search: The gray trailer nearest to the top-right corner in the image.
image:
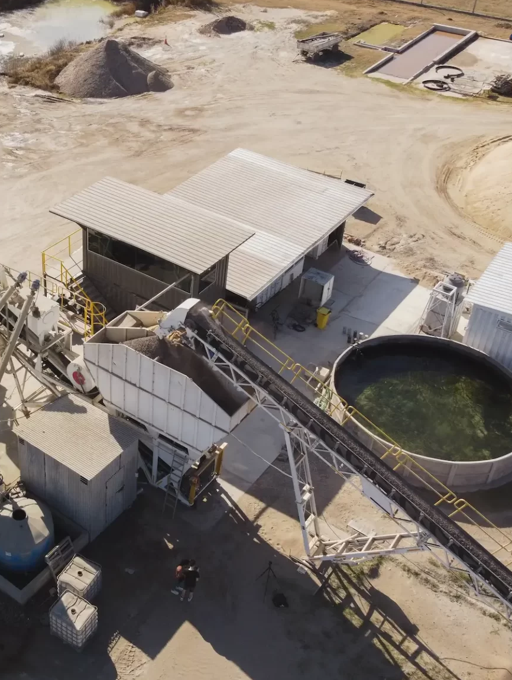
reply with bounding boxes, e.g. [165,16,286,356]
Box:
[295,28,348,62]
